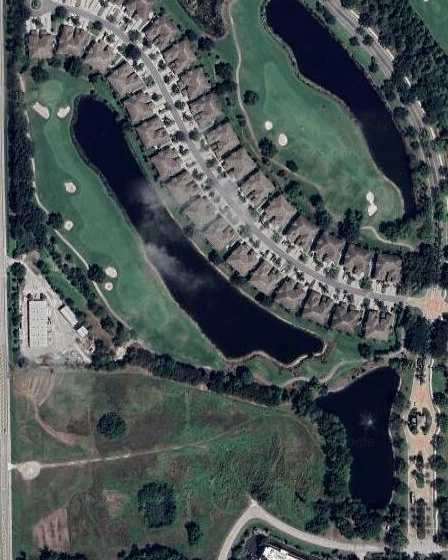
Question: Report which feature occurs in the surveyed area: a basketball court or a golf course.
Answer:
golf course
